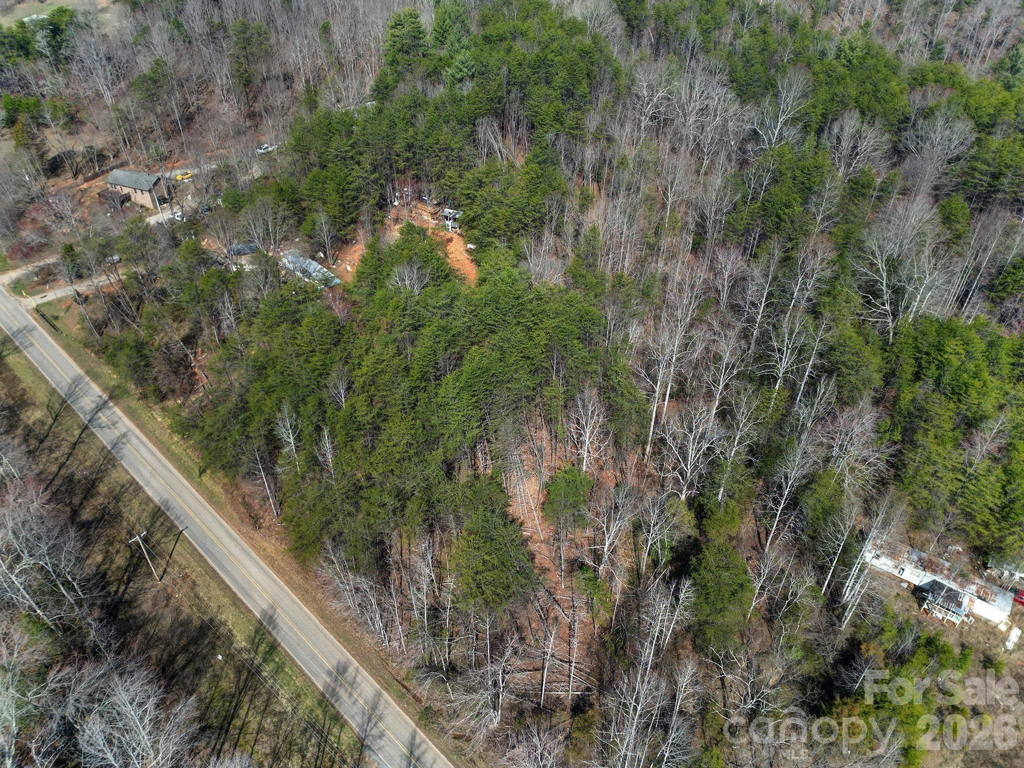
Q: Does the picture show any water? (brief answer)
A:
No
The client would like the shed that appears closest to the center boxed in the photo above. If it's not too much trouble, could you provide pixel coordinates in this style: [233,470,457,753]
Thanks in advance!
[442,211,470,231]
